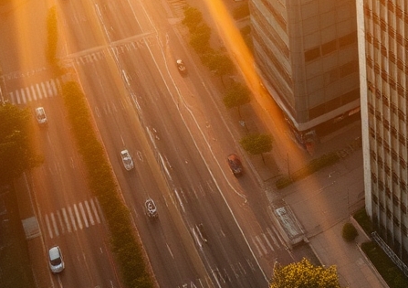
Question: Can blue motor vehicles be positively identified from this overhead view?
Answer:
No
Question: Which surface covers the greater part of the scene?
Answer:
paved ground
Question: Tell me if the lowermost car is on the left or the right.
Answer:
left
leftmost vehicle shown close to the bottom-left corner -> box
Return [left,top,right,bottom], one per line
[46,242,66,270]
